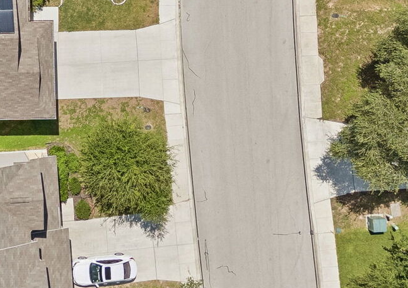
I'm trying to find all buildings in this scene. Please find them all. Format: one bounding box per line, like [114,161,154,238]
[0,0,58,123]
[0,151,72,288]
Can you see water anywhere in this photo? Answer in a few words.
No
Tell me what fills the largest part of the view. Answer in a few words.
paved ground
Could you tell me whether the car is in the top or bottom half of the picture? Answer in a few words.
bottom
